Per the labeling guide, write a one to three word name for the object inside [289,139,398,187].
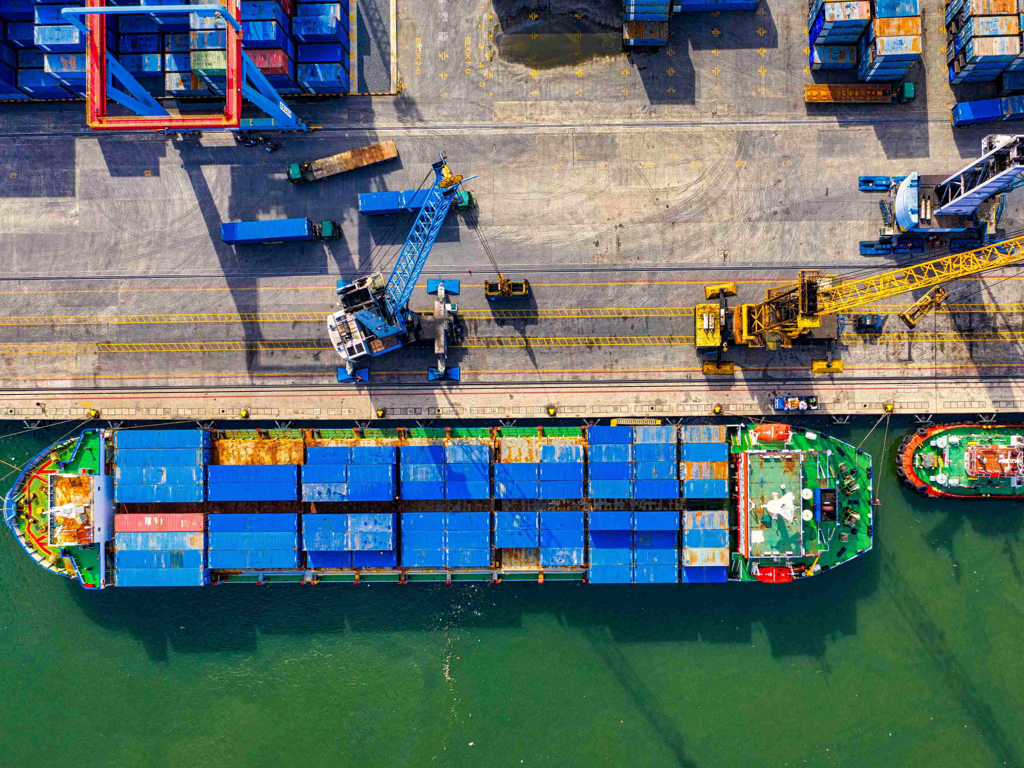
truck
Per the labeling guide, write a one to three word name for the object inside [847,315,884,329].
work vehicle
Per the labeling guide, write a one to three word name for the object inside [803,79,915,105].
truck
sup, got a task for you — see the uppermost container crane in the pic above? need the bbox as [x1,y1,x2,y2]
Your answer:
[66,0,324,135]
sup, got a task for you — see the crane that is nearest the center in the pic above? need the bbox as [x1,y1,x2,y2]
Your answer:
[328,133,497,382]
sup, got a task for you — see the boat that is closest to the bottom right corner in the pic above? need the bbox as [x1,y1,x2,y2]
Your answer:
[896,421,1024,501]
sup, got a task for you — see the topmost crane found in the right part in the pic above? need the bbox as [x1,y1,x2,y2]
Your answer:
[856,124,1024,256]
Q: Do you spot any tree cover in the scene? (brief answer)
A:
No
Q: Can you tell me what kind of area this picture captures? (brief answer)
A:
port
